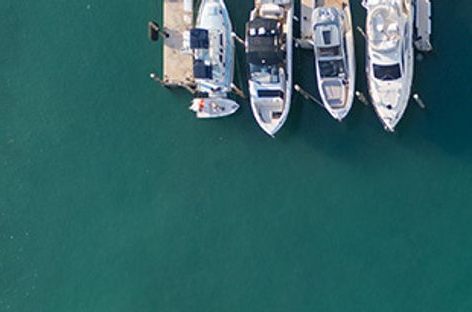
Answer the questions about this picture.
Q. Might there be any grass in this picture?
No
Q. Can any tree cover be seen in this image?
No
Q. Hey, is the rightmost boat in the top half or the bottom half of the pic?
top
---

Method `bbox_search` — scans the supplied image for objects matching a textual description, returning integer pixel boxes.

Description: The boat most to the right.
[365,0,415,131]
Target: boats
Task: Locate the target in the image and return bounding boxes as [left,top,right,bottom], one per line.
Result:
[314,0,360,121]
[191,98,241,118]
[245,0,298,138]
[365,0,415,131]
[190,0,237,98]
